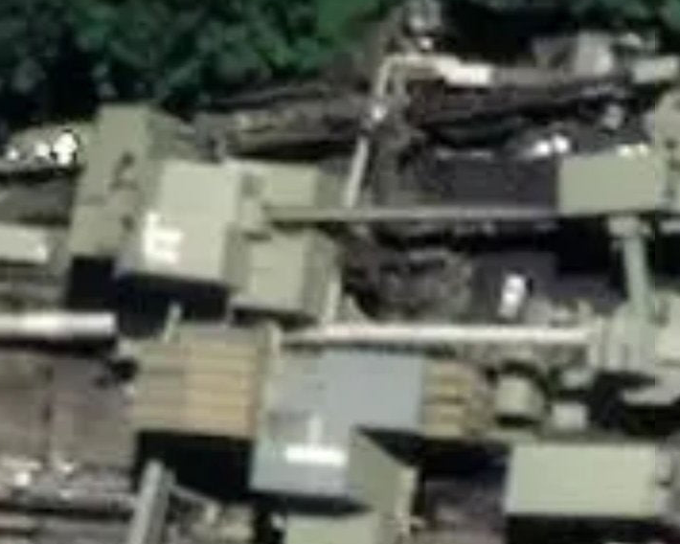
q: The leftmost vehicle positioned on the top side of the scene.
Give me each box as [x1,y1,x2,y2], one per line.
[5,140,23,172]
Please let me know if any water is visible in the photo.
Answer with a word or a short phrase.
No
